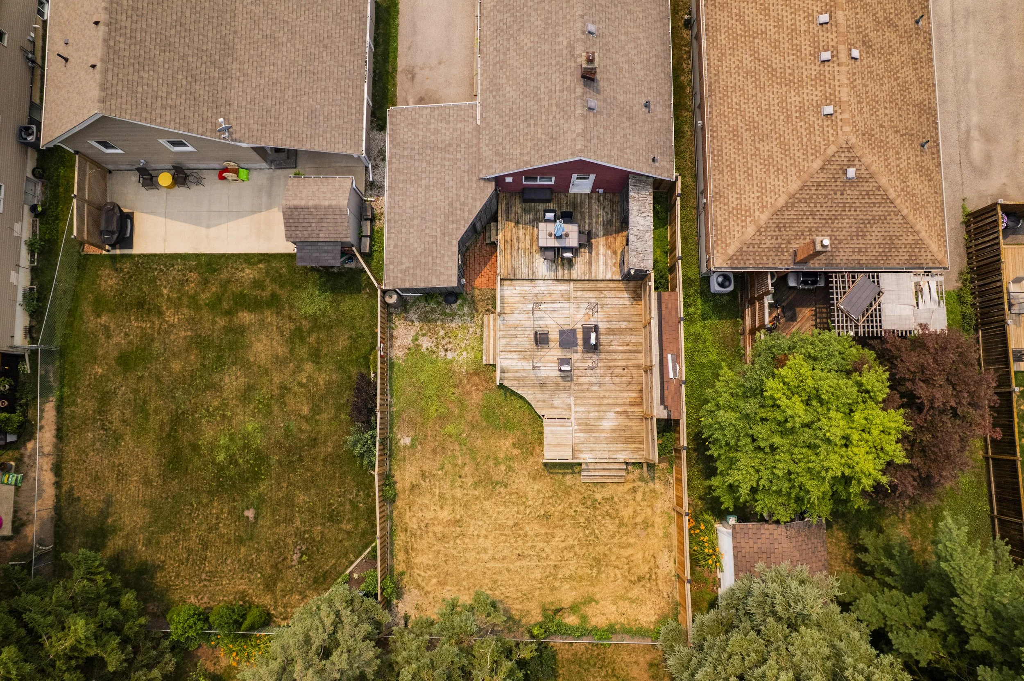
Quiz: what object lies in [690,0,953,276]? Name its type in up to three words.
house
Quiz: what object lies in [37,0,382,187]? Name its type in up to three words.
house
